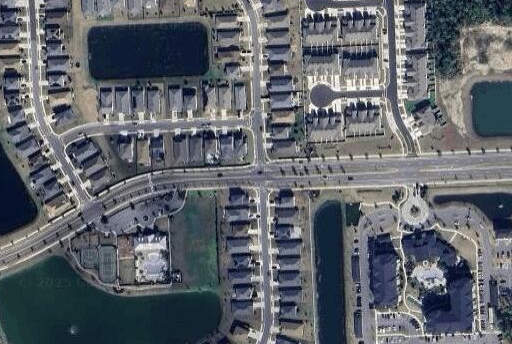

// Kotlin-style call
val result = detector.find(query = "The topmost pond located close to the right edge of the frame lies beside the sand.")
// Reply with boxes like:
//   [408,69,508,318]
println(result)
[471,80,512,138]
